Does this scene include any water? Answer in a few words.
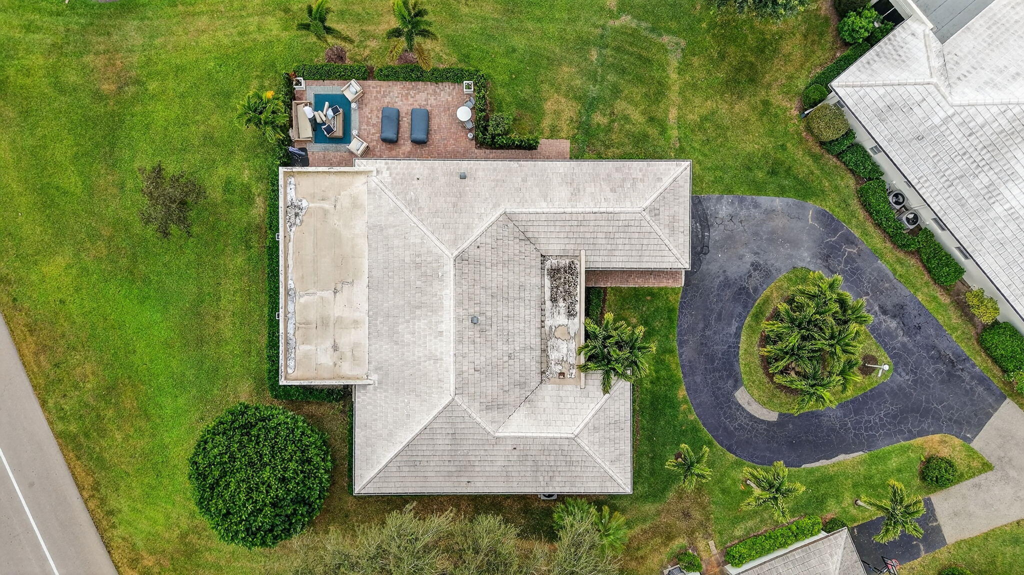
No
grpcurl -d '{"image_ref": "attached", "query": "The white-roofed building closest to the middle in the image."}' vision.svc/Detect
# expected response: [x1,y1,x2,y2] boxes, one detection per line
[279,159,692,495]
